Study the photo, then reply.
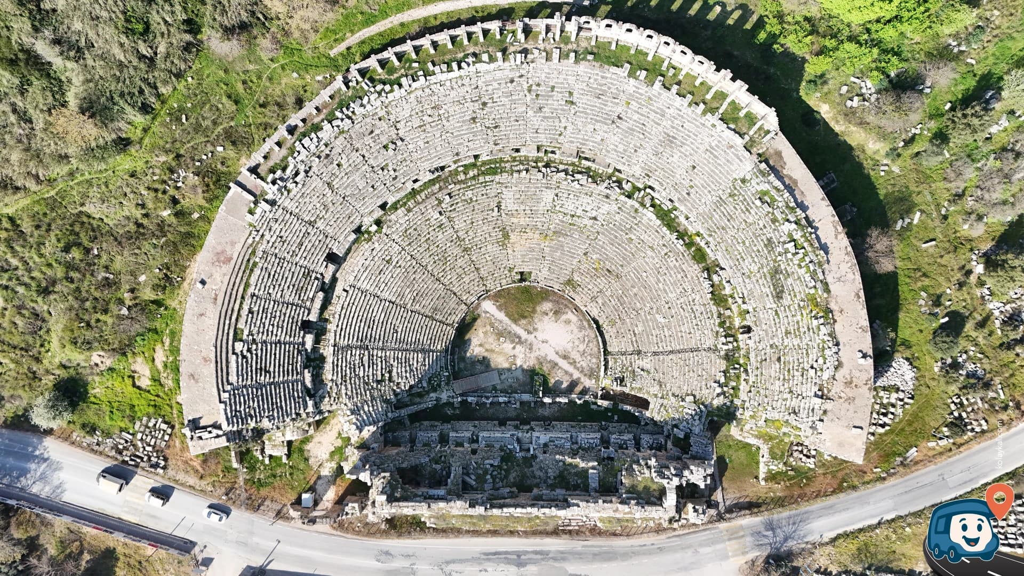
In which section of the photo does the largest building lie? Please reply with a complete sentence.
Look in the bottom portion of the view to spot the largest building.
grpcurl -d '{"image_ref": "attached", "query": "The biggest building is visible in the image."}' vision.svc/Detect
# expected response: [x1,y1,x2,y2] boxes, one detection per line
[341,418,712,531]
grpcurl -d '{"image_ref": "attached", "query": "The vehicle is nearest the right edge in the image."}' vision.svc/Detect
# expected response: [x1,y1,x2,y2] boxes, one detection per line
[203,504,229,519]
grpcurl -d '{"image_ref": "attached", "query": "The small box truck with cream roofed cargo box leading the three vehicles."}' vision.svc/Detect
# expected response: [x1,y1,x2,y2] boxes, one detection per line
[96,471,130,494]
